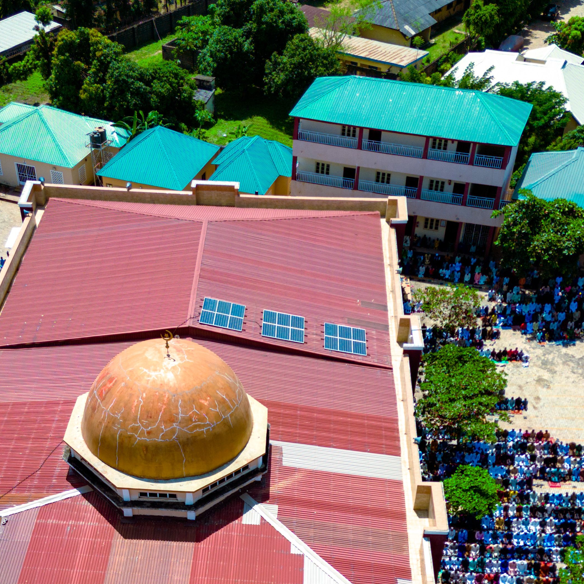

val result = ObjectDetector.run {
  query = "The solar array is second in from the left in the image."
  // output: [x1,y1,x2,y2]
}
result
[258,309,309,343]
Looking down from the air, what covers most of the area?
buildings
